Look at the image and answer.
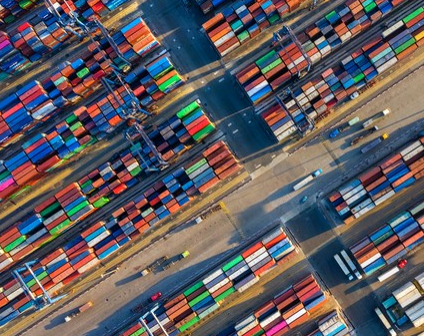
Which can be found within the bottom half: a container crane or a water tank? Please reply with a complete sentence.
Visible within the bottom half is a container crane.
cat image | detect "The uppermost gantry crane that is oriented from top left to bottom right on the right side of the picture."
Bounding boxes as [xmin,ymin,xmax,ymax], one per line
[271,26,314,83]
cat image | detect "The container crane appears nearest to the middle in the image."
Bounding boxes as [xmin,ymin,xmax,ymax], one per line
[124,125,175,175]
